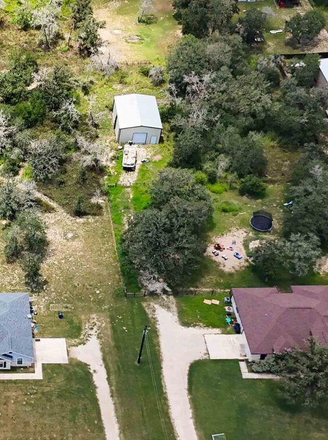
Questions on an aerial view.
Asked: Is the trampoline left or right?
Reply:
right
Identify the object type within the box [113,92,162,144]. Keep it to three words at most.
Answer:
barn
